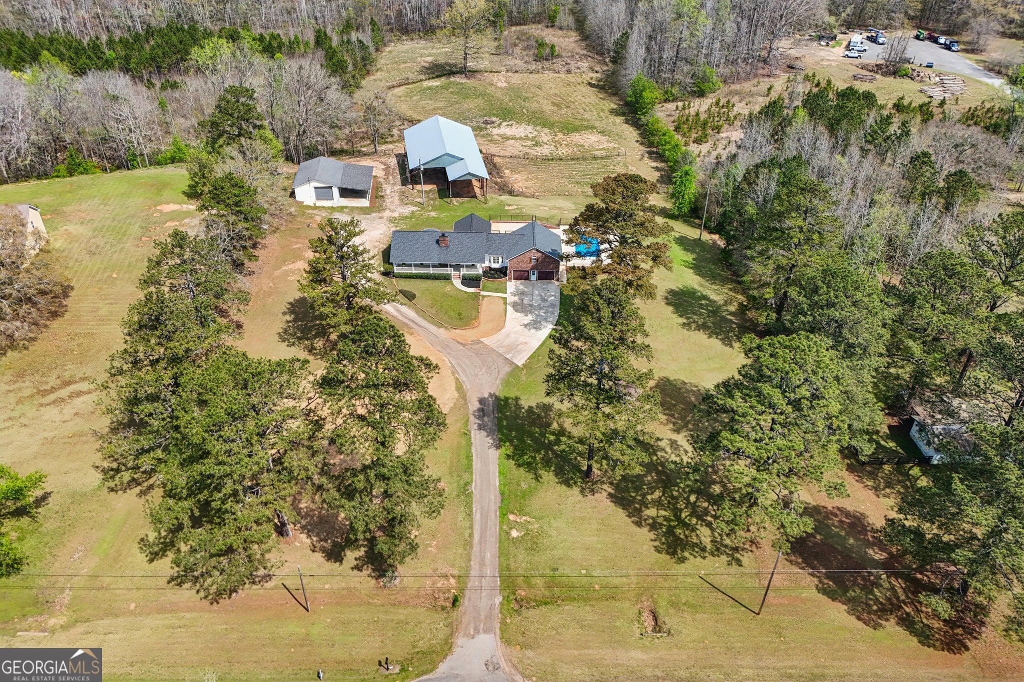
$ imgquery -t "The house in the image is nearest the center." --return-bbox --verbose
[390,214,563,282]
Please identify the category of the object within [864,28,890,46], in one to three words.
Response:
vehicle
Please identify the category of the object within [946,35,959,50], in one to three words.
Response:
vehicle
